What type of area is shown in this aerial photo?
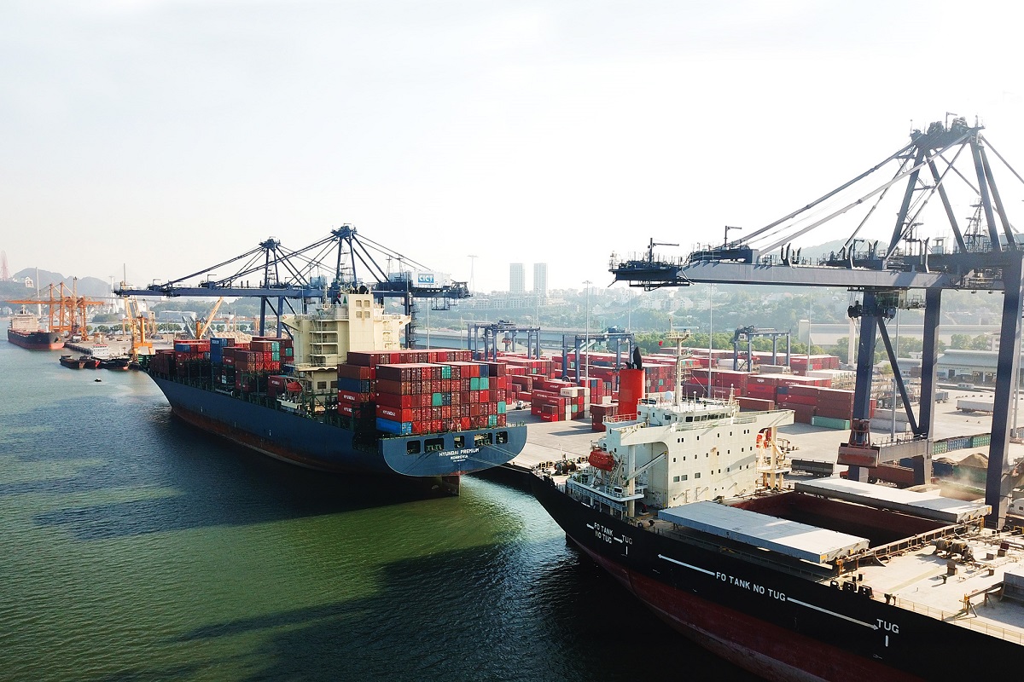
port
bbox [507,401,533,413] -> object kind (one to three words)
vehicle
